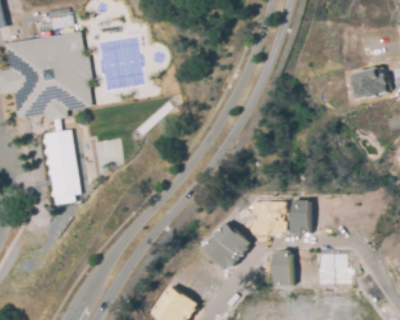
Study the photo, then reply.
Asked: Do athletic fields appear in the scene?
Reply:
Yes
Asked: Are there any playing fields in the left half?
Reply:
Yes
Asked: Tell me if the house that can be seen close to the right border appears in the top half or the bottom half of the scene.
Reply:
top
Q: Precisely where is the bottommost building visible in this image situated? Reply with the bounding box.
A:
[151,287,198,320]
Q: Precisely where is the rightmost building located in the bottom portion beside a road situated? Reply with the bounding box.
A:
[290,200,312,234]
